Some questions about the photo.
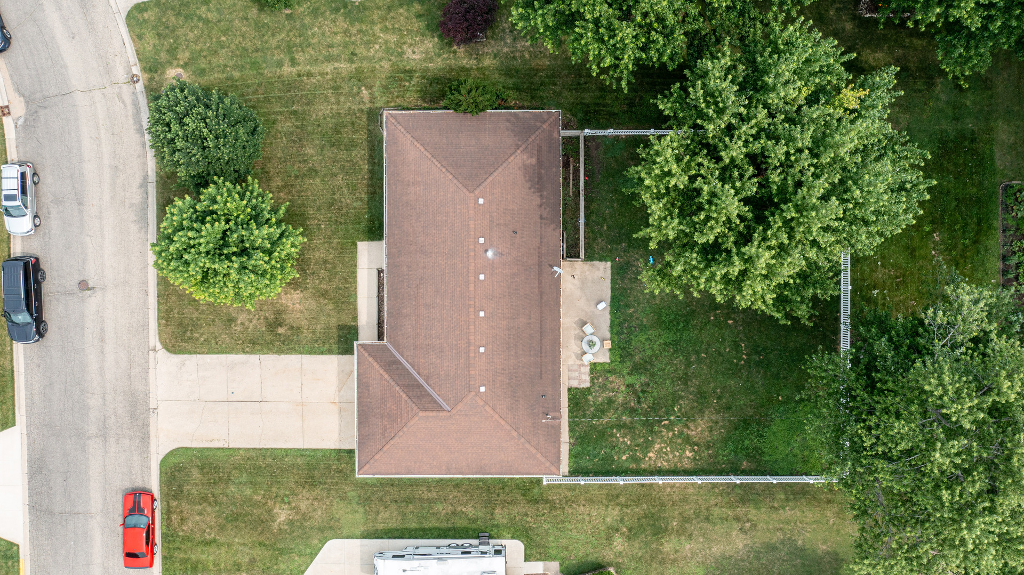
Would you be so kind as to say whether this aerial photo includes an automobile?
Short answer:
Yes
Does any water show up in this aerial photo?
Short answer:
No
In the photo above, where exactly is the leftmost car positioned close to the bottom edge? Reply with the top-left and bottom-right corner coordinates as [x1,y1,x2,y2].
[118,489,159,569]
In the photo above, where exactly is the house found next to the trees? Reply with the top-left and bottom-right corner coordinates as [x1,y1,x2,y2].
[356,111,562,475]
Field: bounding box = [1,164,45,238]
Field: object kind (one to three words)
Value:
car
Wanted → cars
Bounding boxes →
[118,489,159,569]
[0,9,12,53]
[1,164,45,238]
[2,255,50,344]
